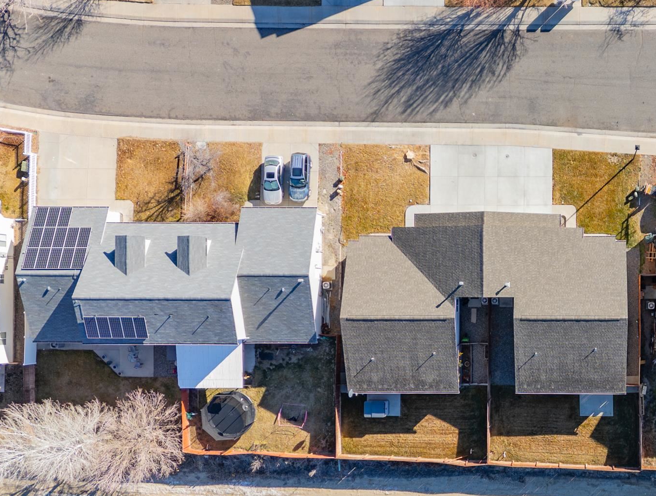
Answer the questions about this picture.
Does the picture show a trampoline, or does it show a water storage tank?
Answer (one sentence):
The one in the frame is a trampoline.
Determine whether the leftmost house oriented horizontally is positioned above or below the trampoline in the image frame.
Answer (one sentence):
From this view, the leftmost house oriented horizontally can be seen above the trampoline.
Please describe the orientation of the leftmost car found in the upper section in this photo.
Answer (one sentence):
Seen from above, the leftmost car found in the upper section lies up and down.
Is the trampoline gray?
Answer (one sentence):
Yes, the trampoline appears gray.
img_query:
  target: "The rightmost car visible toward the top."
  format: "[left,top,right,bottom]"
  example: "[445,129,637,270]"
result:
[287,153,313,204]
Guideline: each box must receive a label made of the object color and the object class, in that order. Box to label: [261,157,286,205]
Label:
white car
